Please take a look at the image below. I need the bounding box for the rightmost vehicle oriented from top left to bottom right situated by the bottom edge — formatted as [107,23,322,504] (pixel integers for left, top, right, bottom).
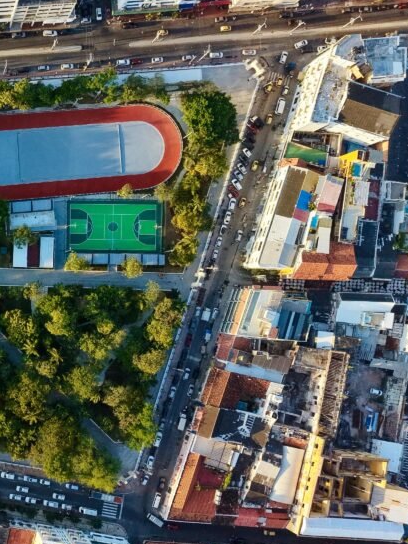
[146,513,162,526]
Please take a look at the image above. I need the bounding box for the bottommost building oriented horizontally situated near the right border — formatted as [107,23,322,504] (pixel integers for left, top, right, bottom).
[299,514,404,542]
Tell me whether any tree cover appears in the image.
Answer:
Yes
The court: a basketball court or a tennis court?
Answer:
basketball court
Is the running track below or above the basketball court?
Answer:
above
